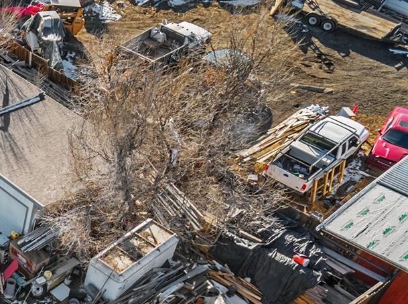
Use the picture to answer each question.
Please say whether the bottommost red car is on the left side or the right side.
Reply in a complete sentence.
You can find the bottommost red car on the right side of the picture.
